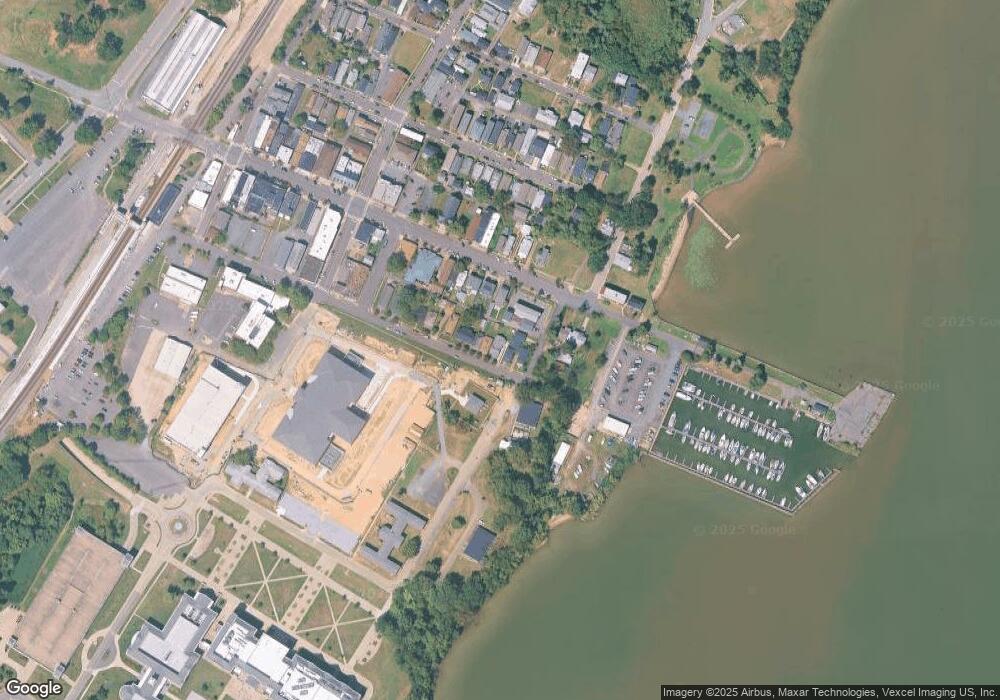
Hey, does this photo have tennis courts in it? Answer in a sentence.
No, there is no tennis court in the image.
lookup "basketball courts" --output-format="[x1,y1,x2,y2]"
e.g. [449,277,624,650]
[694,108,719,139]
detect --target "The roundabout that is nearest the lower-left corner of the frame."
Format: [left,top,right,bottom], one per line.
[82,624,126,674]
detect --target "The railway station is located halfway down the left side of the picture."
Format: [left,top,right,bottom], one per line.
[0,151,193,424]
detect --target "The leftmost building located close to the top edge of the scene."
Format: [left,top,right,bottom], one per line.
[140,9,226,114]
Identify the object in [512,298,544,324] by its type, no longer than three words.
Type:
house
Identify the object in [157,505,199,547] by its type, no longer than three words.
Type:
roundabout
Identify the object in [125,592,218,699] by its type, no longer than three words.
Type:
building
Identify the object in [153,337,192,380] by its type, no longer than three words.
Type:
shed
